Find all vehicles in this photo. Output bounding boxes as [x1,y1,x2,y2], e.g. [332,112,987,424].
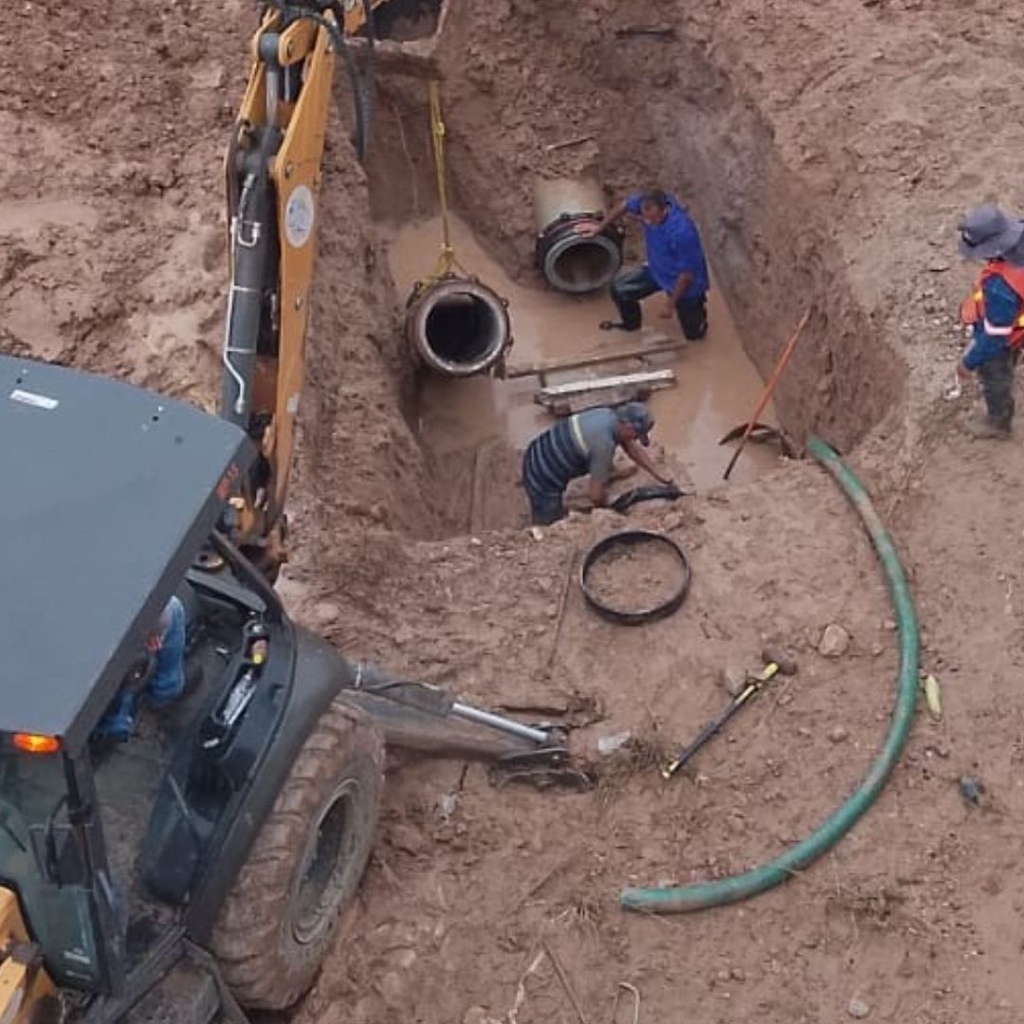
[0,0,590,1024]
